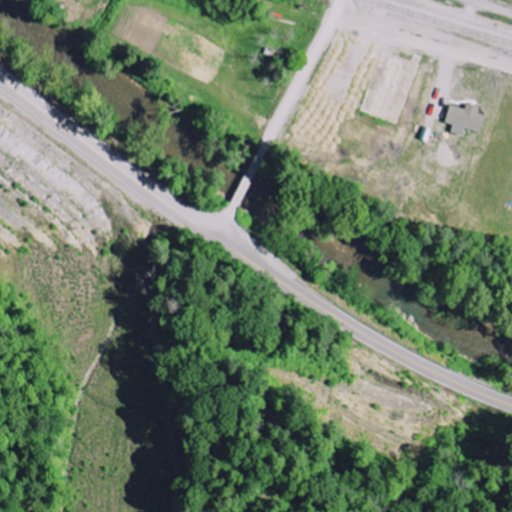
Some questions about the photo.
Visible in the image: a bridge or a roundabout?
bridge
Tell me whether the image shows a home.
Yes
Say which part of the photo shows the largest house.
top right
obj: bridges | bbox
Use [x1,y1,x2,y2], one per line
[231,146,267,208]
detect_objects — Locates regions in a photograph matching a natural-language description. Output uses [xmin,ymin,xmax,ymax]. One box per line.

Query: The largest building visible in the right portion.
[446,104,484,136]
